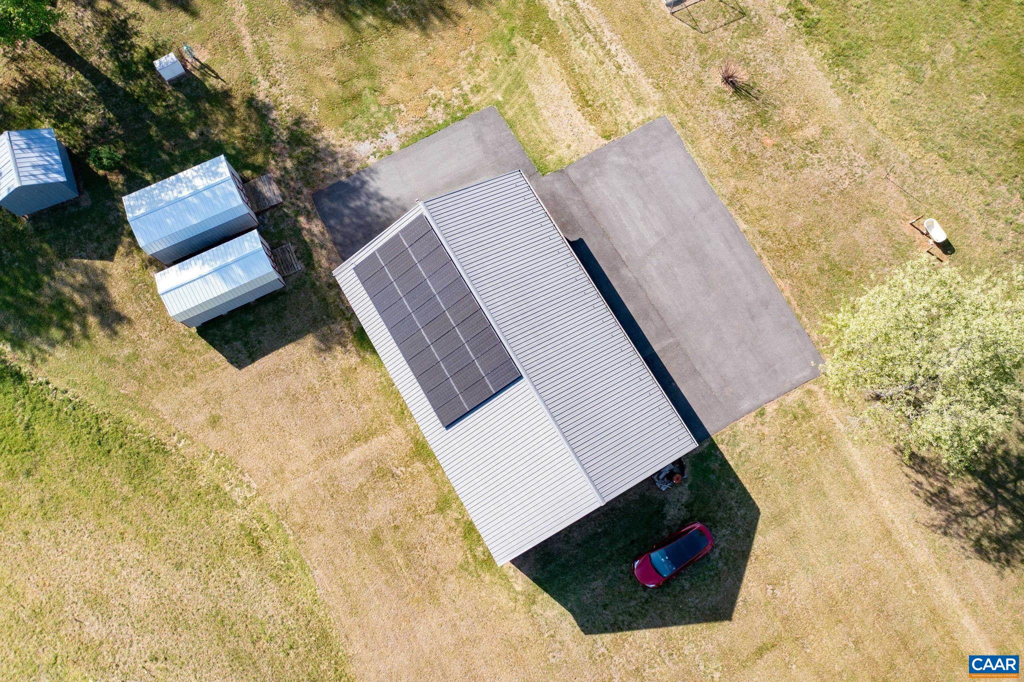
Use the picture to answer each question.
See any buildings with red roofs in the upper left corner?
No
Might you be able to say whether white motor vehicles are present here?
No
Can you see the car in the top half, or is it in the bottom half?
bottom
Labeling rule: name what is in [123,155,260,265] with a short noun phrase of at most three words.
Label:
shed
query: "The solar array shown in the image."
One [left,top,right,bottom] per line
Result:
[353,215,521,427]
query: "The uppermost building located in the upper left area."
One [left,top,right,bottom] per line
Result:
[154,52,189,89]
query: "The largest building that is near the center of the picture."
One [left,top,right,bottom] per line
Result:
[332,169,699,567]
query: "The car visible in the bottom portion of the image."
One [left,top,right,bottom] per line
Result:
[631,522,718,588]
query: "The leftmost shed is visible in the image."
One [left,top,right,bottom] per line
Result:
[0,128,80,215]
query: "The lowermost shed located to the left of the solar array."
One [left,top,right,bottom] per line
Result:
[155,230,285,327]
